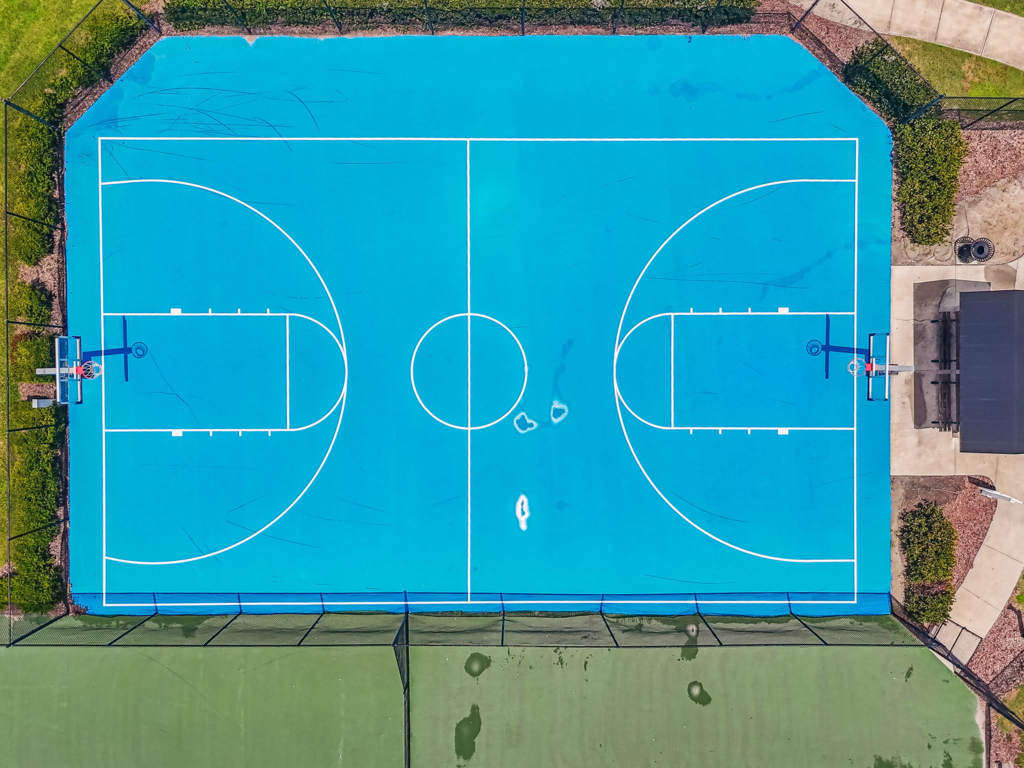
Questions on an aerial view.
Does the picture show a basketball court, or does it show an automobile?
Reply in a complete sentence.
Of the two, only a basketball court appears.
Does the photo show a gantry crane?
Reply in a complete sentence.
No, the picture doesn't show any gantry crane.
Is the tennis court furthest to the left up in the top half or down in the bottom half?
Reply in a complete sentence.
The tennis court furthest to the left sits in the bottom half of the picture.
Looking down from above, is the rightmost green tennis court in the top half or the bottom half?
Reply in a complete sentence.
The rightmost green tennis court sits in the bottom half of the picture.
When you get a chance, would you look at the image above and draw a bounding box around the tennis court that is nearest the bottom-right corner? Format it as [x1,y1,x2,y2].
[409,614,984,768]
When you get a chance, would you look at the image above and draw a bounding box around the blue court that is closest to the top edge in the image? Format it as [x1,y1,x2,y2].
[65,34,893,615]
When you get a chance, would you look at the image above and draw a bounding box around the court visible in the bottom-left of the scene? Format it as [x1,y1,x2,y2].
[0,613,410,768]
